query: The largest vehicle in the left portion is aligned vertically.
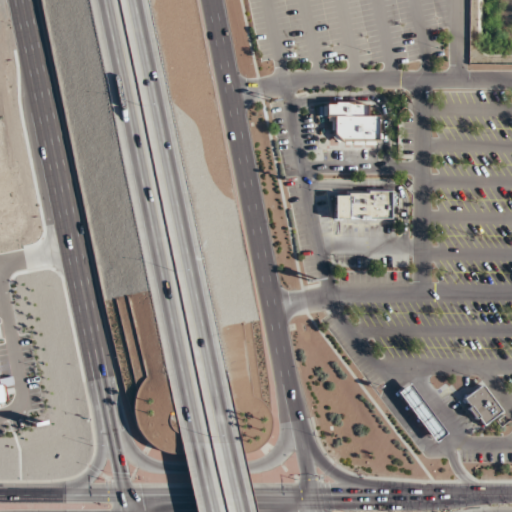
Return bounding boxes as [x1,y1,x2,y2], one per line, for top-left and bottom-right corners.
[116,78,128,121]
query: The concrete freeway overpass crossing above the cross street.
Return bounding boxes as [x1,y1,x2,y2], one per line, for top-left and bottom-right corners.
[180,431,256,512]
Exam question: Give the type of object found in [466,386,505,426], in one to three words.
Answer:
building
